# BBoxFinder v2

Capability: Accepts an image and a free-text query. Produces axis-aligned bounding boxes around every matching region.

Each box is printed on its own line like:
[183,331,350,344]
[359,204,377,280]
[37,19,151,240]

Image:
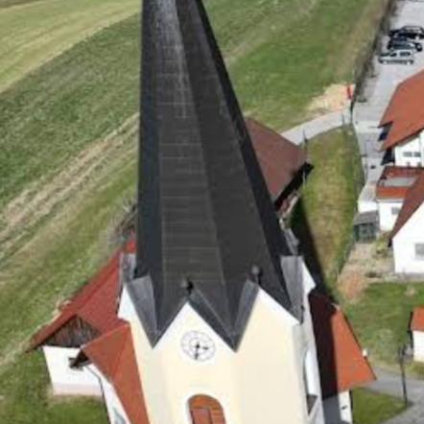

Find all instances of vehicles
[391,24,424,39]
[379,47,416,64]
[389,35,424,50]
